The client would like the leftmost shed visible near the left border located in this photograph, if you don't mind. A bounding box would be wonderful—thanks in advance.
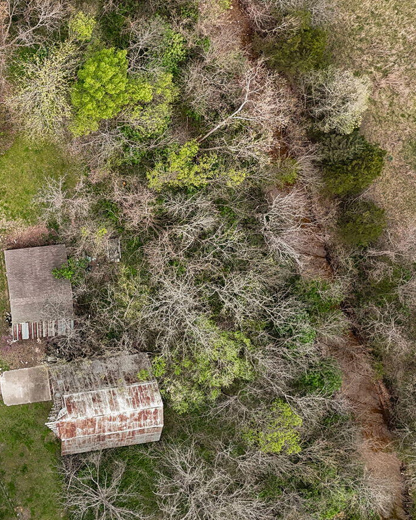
[4,244,74,342]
